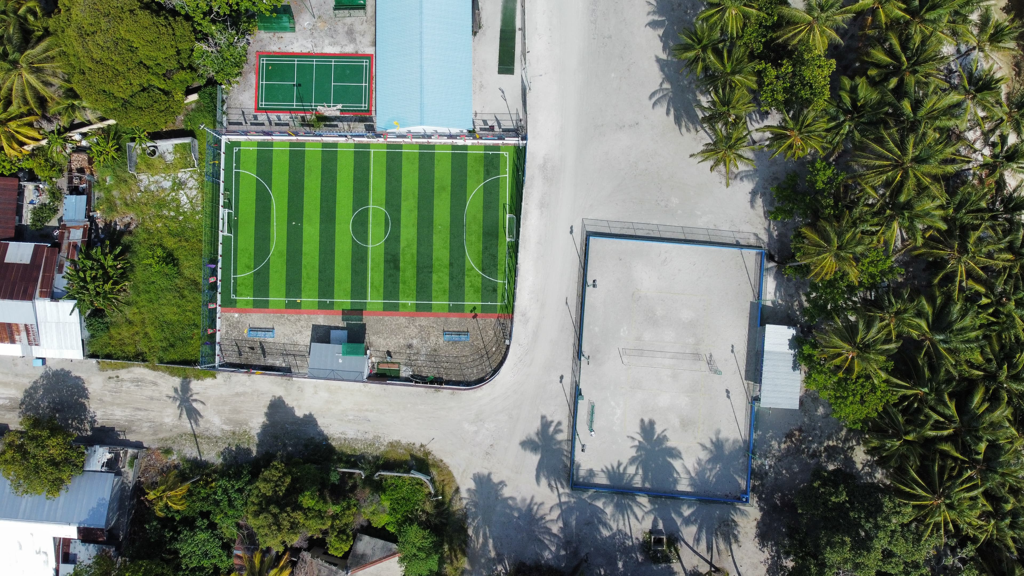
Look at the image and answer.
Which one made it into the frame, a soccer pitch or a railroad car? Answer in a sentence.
It is a soccer pitch that can be seen here.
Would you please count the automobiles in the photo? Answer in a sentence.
There are no automobiles in this view.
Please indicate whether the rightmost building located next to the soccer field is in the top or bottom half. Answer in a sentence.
The top half of the photo is where the rightmost building located next to the soccer field is.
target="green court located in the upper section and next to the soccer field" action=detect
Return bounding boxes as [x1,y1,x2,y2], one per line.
[255,52,373,115]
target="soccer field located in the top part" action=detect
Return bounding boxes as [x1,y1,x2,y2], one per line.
[221,141,524,313]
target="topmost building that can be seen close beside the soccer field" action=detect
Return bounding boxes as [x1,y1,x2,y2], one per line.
[375,0,473,136]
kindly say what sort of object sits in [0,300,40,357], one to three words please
house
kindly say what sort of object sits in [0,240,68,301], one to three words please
house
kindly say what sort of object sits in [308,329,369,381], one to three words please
building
